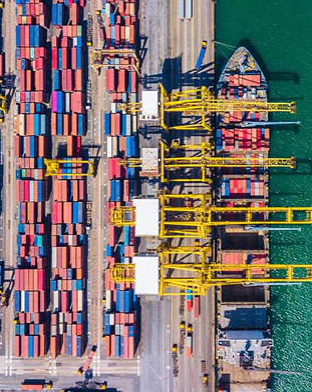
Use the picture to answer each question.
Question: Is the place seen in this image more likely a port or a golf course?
port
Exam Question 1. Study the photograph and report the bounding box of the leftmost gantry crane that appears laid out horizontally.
[46,159,95,178]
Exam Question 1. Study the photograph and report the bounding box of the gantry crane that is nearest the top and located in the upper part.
[92,49,139,76]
